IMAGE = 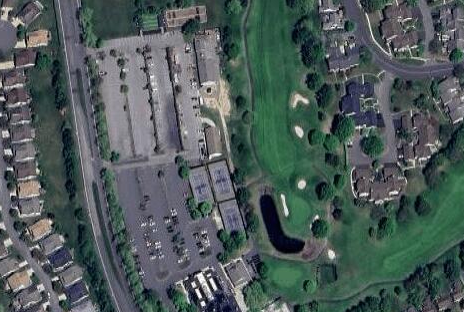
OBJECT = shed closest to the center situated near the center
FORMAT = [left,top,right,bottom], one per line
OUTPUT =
[205,122,222,158]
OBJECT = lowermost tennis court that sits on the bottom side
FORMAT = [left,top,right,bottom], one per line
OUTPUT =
[222,201,244,232]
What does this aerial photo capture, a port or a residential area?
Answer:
residential area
